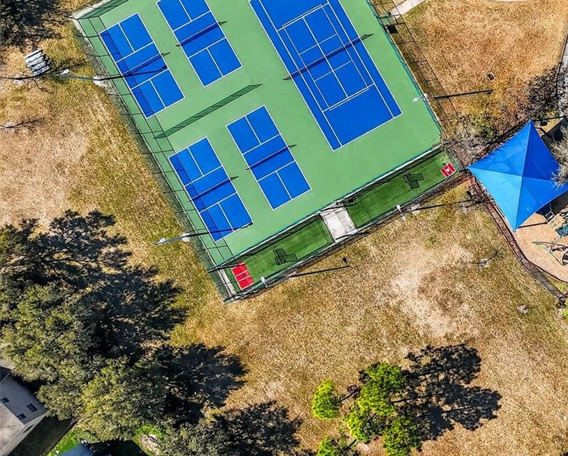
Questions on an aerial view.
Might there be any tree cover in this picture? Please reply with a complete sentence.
Yes, tree cover shows up in the scene.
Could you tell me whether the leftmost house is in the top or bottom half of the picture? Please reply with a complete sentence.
You can find the leftmost house in the bottom half.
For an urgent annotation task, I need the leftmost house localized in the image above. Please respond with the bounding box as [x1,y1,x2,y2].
[0,358,47,452]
